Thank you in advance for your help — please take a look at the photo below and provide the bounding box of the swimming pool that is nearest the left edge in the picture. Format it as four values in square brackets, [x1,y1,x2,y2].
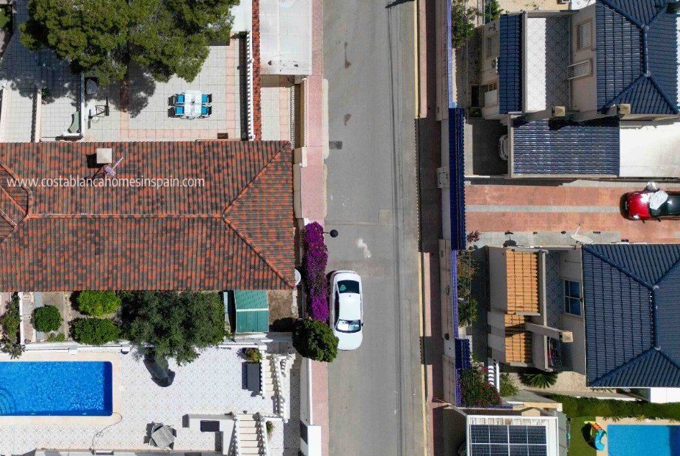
[0,353,121,425]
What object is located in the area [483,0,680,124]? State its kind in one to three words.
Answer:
house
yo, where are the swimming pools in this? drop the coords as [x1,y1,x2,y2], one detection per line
[604,421,680,456]
[0,353,121,425]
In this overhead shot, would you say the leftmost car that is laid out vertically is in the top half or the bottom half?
bottom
